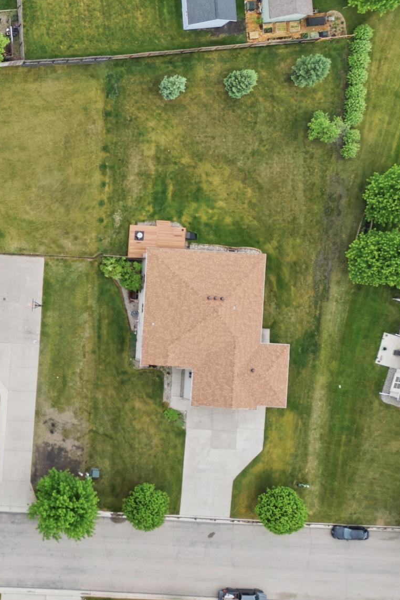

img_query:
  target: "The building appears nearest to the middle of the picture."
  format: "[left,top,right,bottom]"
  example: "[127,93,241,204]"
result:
[135,247,290,410]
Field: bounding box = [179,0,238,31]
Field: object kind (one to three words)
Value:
shed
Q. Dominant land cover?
grass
